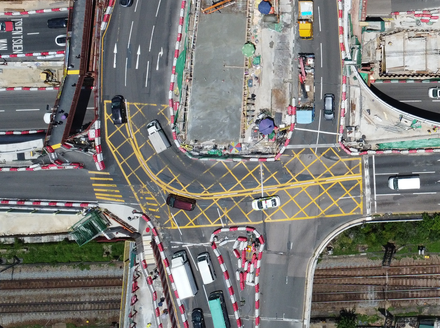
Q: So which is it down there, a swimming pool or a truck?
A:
truck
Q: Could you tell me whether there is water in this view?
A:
No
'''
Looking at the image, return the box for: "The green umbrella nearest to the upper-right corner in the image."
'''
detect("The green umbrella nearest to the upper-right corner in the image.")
[242,43,256,57]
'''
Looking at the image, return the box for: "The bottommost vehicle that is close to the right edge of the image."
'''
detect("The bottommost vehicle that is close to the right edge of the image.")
[388,177,420,190]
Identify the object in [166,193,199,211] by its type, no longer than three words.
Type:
car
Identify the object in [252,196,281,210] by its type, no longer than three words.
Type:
car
